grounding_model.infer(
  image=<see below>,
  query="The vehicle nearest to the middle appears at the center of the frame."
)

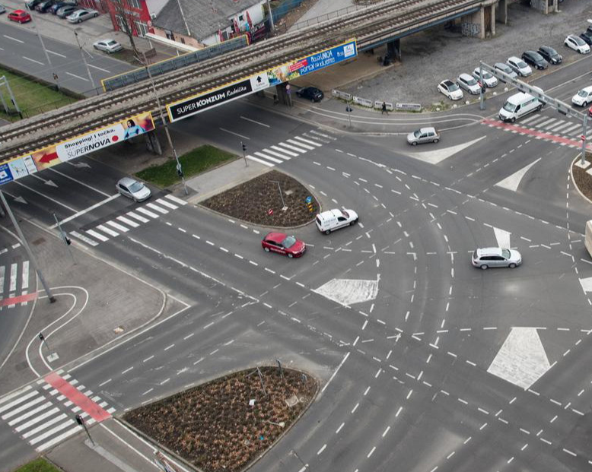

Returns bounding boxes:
[264,234,306,258]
